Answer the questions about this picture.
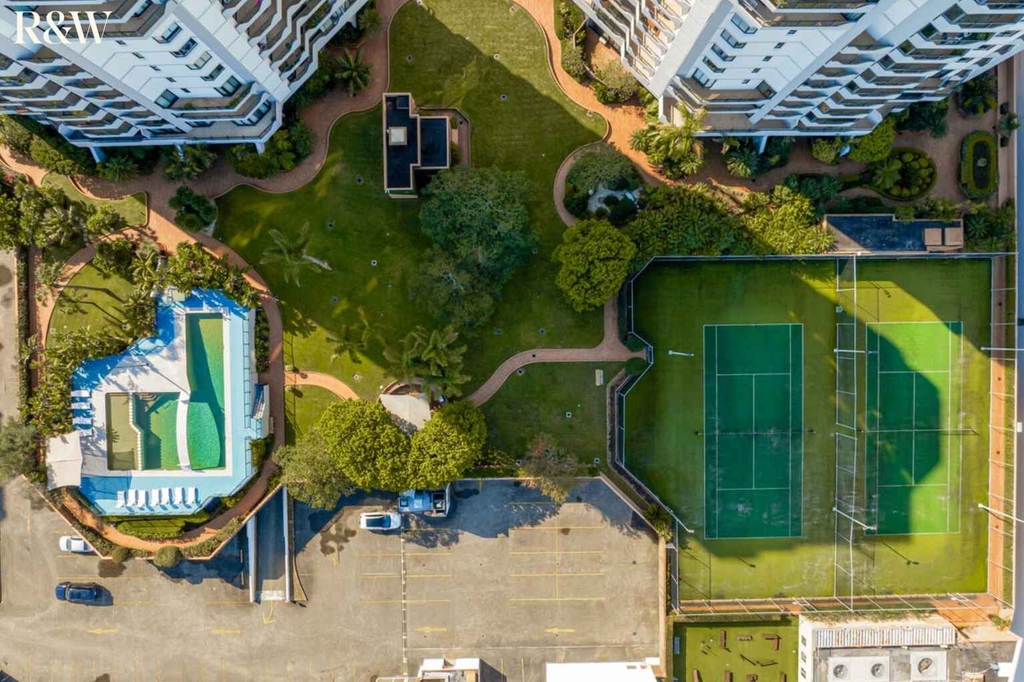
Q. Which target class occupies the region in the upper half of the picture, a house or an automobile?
house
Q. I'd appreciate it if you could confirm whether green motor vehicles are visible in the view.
No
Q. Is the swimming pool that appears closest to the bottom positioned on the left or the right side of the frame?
left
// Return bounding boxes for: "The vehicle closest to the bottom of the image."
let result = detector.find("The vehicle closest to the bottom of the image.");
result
[59,579,102,602]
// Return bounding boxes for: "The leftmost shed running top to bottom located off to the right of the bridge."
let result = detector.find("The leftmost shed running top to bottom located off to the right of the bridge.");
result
[252,382,277,437]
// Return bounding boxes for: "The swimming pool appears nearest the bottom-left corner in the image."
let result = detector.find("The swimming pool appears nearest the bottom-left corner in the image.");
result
[71,289,269,516]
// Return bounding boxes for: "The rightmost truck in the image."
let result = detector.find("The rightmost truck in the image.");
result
[400,488,449,515]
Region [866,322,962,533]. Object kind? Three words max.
tennis court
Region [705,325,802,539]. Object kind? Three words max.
tennis court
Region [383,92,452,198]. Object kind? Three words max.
house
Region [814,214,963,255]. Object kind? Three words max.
house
